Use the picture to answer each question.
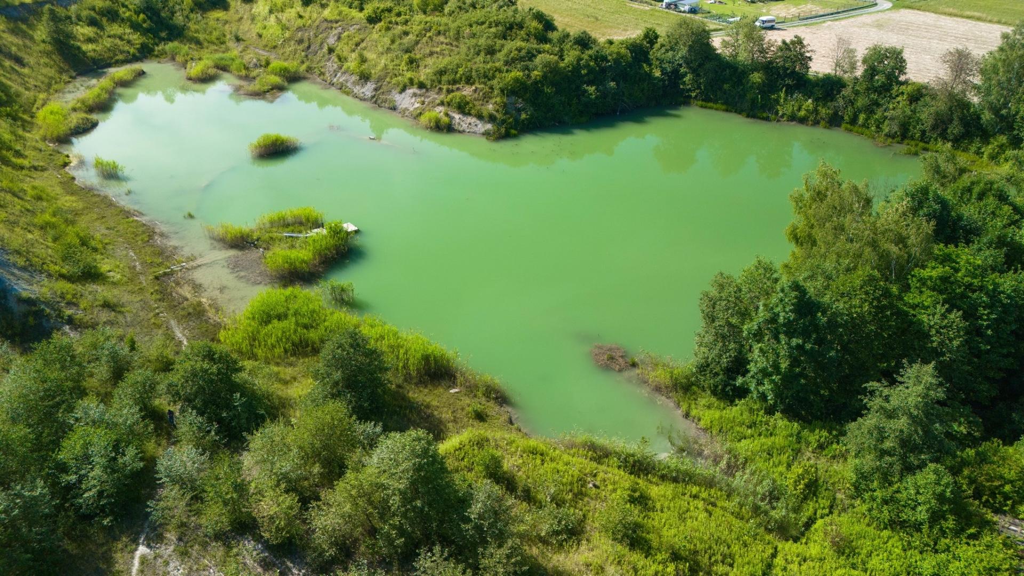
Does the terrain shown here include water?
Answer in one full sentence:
Yes, some water is visible.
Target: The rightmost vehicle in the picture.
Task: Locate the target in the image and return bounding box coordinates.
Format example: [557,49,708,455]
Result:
[756,15,780,29]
